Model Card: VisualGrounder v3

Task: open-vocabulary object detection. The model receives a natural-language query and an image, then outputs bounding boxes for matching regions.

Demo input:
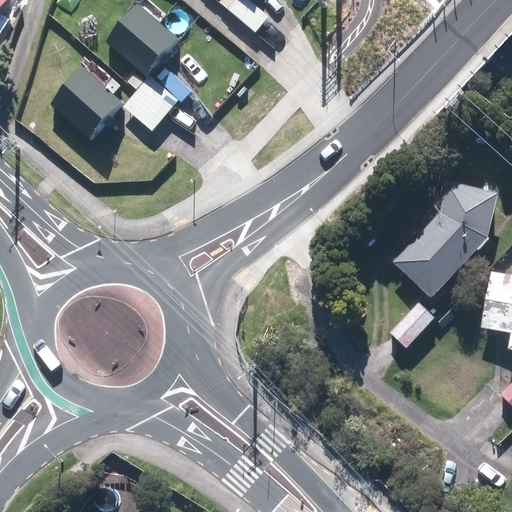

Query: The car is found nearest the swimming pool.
[180,54,207,84]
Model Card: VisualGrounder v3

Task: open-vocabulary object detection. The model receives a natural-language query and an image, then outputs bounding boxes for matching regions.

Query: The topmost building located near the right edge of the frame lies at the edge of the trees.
[394,183,499,297]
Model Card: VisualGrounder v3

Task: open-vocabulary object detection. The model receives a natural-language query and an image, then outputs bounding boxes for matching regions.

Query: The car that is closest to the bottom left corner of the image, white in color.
[1,380,28,409]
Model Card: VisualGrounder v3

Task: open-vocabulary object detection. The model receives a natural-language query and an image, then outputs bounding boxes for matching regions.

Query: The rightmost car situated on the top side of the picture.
[318,140,344,164]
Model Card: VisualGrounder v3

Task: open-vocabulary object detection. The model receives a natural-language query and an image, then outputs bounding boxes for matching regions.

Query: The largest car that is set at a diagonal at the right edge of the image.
[476,462,508,488]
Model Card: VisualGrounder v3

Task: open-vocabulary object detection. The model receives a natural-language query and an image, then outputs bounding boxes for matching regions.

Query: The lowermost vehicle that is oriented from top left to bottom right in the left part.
[32,339,64,374]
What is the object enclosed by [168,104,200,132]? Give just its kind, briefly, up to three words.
truck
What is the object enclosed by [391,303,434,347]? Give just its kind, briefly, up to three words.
shed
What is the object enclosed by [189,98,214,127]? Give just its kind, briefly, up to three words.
car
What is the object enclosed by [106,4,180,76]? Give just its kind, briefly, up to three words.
house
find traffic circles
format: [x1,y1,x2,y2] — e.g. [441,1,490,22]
[54,284,166,388]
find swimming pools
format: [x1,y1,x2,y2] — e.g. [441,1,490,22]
[164,9,191,36]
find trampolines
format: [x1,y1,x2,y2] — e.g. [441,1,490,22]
[94,488,119,512]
